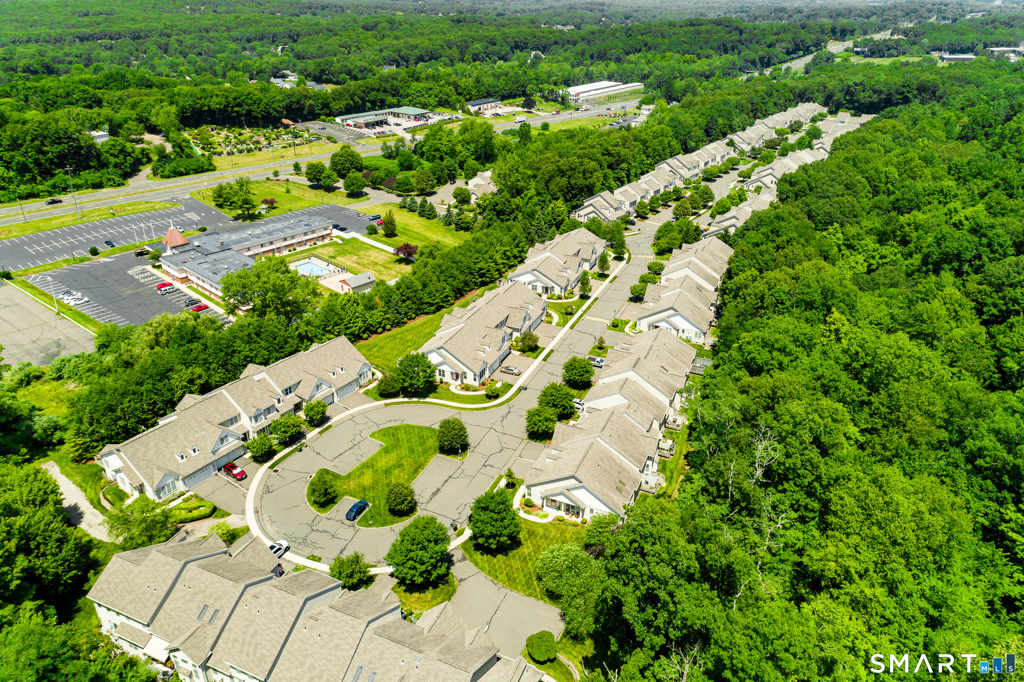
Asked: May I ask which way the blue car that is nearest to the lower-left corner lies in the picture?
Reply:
diagonally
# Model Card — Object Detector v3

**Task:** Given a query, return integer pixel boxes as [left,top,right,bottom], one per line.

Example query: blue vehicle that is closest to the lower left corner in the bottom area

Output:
[344,498,368,520]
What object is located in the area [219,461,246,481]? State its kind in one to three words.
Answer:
car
